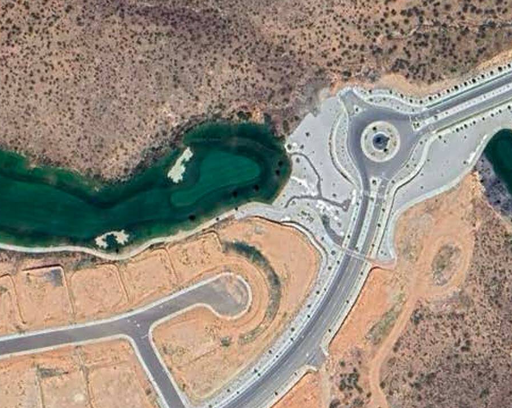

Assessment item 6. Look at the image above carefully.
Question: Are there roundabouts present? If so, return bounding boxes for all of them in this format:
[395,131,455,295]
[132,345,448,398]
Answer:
[340,89,434,192]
